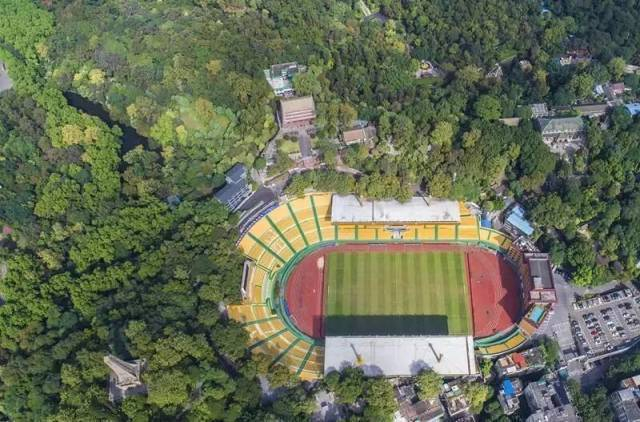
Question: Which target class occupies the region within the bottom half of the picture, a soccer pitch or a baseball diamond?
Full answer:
There is a soccer pitch within the bottom half of the picture.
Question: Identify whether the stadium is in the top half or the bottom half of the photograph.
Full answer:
The stadium sits in the bottom half of the picture.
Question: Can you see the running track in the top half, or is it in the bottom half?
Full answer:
The bottom half of the photo is where the running track is.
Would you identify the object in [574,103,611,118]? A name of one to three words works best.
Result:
building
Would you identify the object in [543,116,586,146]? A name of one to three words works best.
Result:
building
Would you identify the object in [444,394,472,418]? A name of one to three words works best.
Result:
house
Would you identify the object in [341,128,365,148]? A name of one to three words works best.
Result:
house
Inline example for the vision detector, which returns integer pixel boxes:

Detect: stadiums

[234,189,524,393]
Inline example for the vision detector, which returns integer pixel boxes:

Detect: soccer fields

[324,250,471,338]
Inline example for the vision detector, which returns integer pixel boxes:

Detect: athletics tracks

[284,241,520,341]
